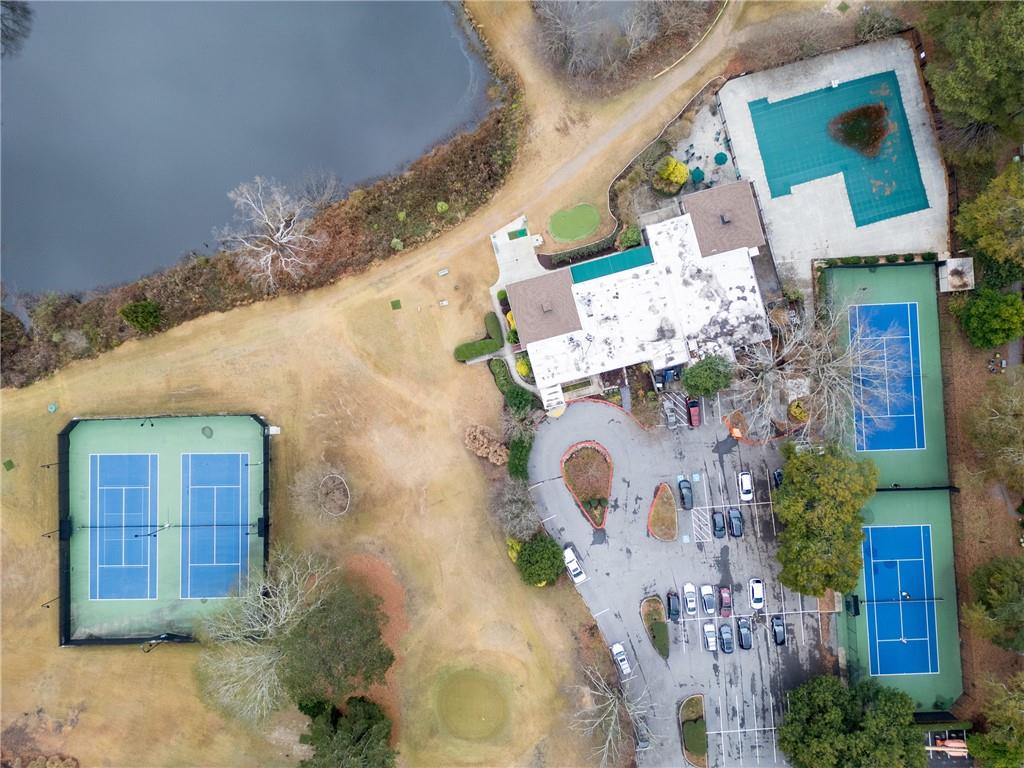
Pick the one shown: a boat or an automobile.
automobile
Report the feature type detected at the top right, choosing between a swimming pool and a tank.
swimming pool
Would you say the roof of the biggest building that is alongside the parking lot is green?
No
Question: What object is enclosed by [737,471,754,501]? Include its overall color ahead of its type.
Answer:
white car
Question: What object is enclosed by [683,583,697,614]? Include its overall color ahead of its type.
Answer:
white car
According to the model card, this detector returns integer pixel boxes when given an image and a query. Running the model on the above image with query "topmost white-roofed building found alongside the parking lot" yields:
[506,180,772,390]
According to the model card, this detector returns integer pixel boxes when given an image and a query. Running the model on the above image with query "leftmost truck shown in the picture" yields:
[563,547,586,583]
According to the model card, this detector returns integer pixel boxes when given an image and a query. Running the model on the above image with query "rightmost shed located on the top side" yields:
[931,258,974,293]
